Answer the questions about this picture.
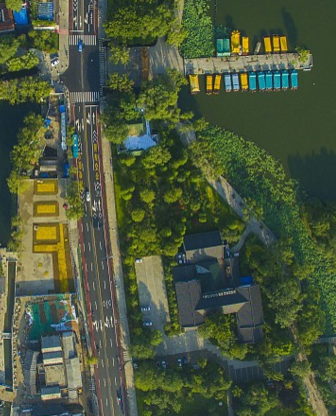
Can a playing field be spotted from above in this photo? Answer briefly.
No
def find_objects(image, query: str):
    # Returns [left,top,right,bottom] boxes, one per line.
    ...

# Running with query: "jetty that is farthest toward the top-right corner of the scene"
[185,53,312,75]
